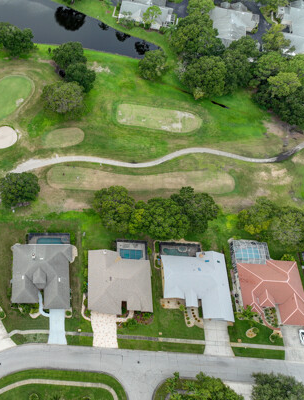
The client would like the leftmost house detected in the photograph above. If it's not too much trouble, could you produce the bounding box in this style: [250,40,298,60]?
[9,245,72,310]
